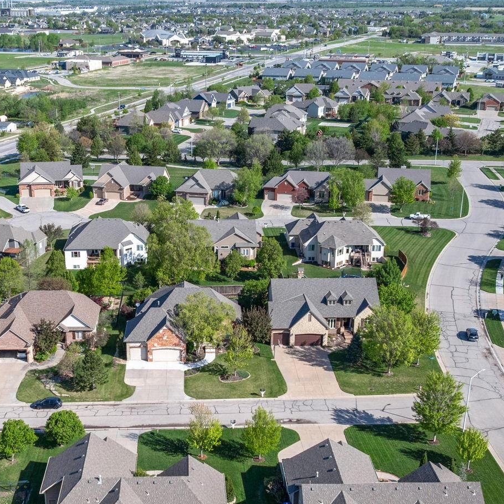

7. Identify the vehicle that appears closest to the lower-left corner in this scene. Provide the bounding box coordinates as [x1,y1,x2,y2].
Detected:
[30,393,62,408]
